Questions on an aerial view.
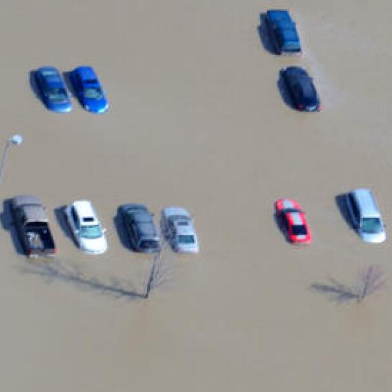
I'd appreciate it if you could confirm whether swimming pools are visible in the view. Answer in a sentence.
No, the scene contains no swimming pool.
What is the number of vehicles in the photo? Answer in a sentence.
The number of vehicles here is 10.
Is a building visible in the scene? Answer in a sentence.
No, I find no building anywhere in the image.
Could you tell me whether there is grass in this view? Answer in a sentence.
No, no grass is visible.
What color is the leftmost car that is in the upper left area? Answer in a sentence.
The leftmost car that is in the upper left area is blue.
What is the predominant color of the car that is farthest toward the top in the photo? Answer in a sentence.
The color of the car that is farthest toward the top is blue.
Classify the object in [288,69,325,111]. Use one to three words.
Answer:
car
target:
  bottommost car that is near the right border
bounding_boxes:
[346,187,388,243]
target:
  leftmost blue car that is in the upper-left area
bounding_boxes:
[37,65,71,113]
